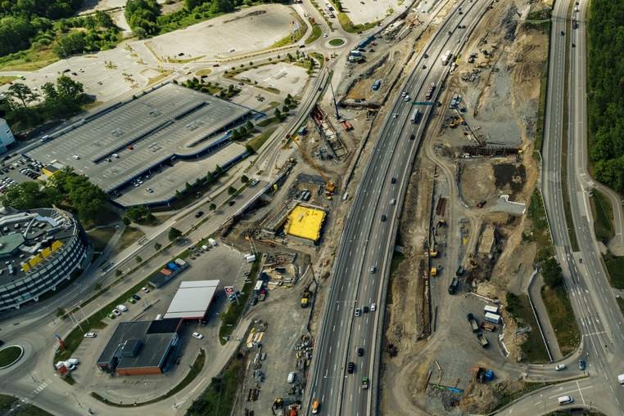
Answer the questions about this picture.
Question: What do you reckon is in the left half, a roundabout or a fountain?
roundabout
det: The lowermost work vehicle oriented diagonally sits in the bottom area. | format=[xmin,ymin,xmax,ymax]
[266,392,284,416]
